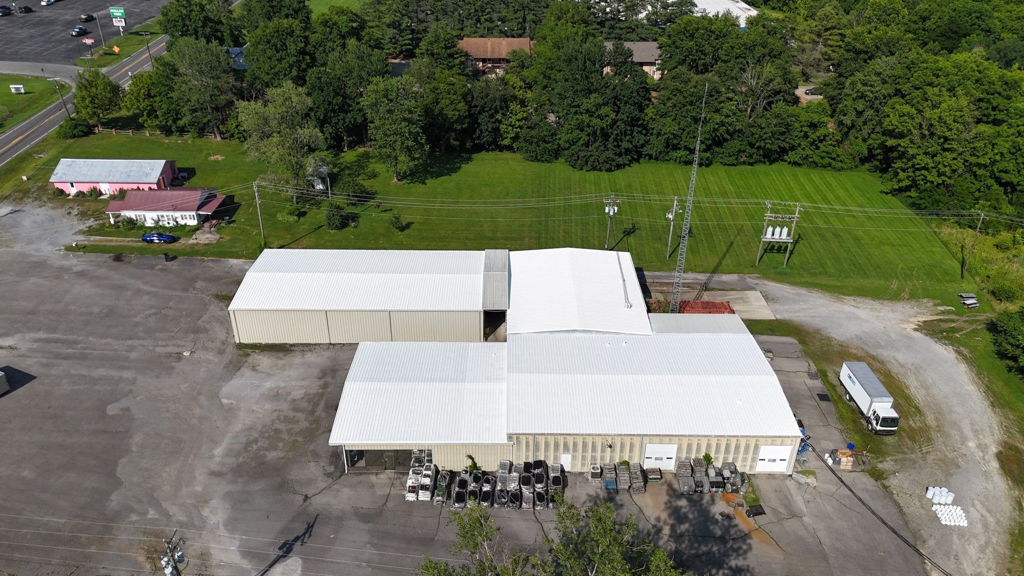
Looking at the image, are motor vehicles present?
Yes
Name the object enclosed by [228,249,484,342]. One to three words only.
barn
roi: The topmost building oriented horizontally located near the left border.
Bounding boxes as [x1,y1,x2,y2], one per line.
[45,158,179,200]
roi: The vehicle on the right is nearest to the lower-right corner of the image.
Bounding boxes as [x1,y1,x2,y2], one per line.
[841,361,905,434]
